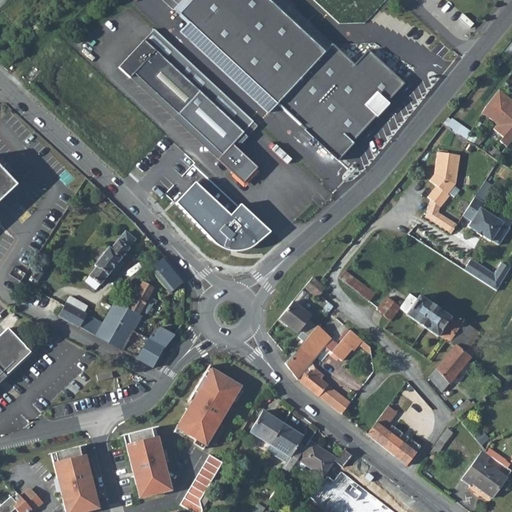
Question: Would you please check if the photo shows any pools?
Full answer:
No, no pool is visible in the scene.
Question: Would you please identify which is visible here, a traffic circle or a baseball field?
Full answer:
This aerial view contains a traffic circle.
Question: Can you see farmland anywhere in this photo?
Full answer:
No, no farmland is visible.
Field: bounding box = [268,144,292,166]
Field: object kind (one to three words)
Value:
truck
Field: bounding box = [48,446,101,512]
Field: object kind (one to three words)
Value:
house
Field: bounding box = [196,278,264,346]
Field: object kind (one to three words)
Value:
roundabout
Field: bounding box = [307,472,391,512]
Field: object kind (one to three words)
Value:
building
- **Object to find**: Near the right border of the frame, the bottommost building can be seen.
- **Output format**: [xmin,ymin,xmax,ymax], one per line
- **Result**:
[461,449,510,500]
